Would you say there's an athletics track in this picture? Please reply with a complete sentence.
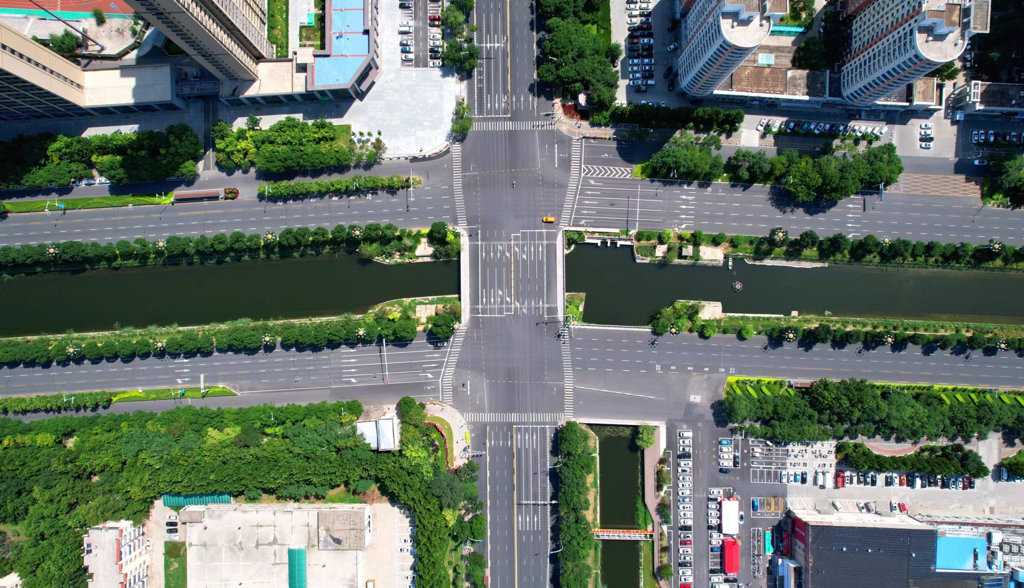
No, there appears to be no athletics track in this shot.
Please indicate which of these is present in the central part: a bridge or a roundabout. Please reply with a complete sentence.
You can see a bridge in the central part.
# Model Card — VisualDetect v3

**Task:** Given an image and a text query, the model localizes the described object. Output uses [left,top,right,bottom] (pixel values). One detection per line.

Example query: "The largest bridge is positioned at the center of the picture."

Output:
[460,227,566,329]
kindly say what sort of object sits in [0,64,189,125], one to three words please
building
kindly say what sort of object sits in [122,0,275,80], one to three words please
building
